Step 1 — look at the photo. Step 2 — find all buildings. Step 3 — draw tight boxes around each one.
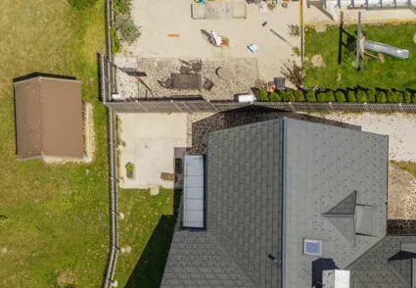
[161,119,416,288]
[11,76,98,170]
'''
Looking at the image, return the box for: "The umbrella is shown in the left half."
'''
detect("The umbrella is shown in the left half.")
[120,68,152,96]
